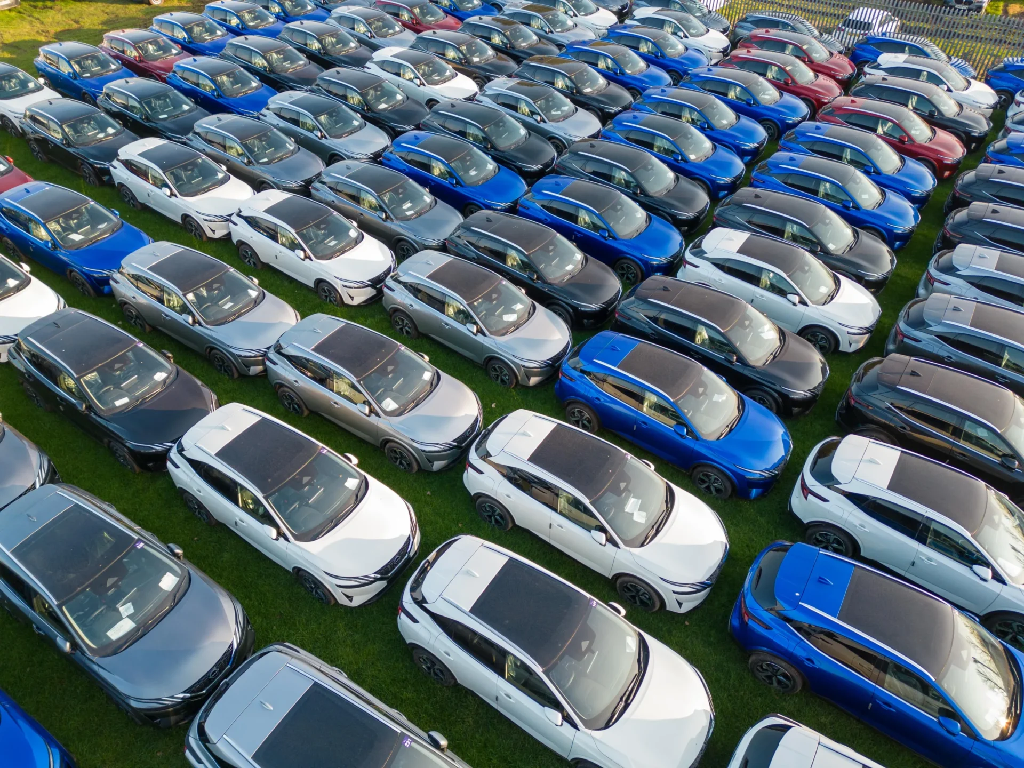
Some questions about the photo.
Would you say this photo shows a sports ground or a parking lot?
parking lot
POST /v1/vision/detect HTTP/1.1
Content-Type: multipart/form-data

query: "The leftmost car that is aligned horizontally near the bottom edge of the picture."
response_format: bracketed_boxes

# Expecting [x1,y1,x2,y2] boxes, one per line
[181,647,469,768]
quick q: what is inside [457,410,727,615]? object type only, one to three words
car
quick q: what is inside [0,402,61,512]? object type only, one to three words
car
